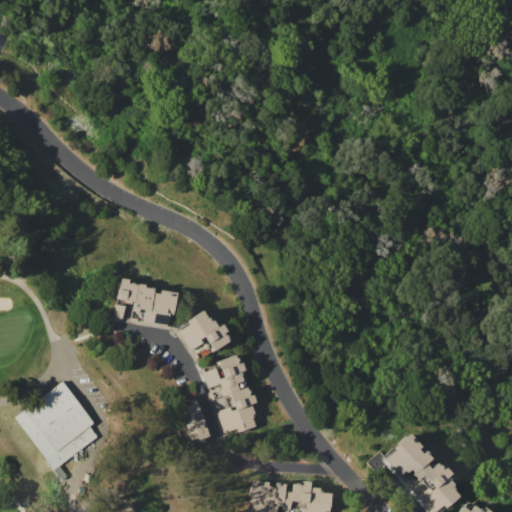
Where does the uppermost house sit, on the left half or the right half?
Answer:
left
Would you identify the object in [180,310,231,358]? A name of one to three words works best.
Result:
house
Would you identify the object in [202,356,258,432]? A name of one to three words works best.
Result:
house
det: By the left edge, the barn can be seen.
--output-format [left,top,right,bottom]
[16,384,98,480]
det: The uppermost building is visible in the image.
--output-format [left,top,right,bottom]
[116,278,179,324]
